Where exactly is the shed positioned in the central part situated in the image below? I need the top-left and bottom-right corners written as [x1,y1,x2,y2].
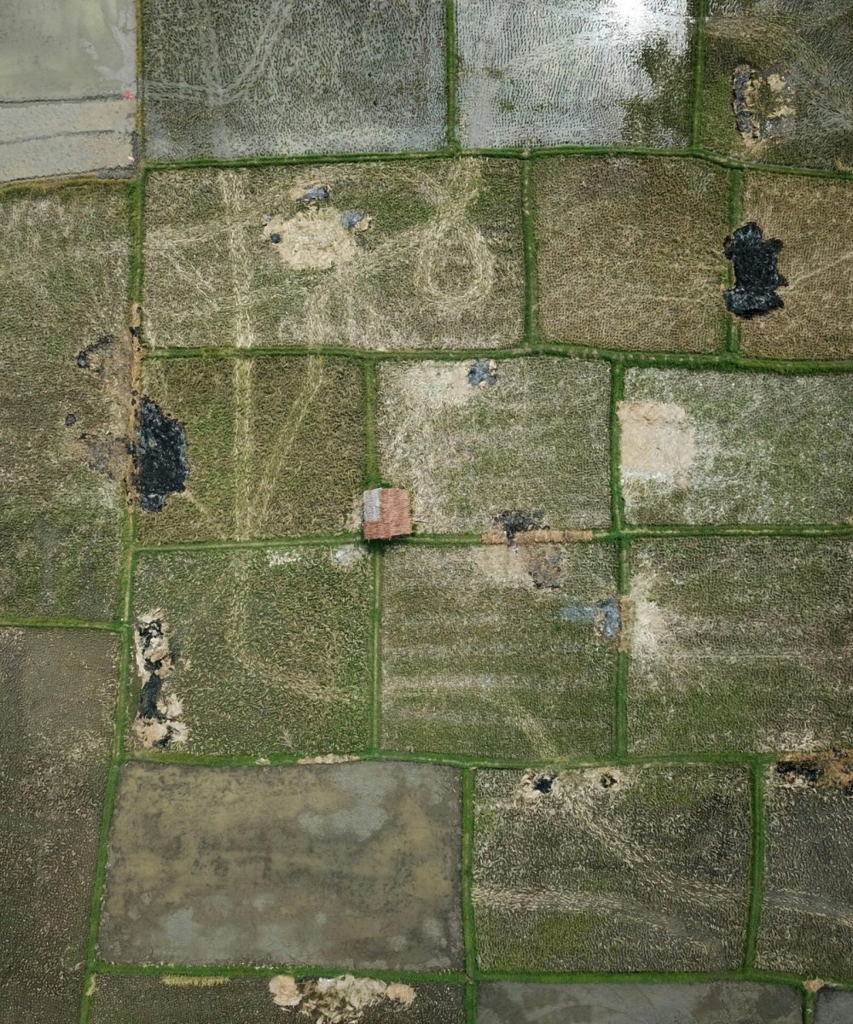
[360,486,411,544]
